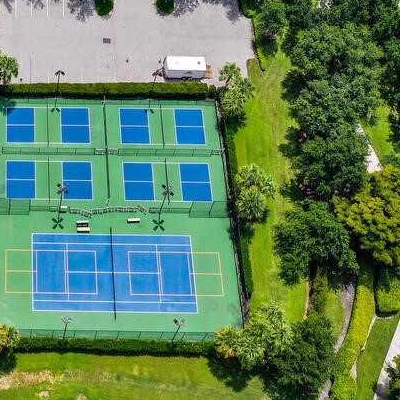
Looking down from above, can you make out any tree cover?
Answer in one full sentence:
Yes, there is tree cover in the image.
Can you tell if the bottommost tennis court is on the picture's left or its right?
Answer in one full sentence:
You can find the bottommost tennis court on the left side of the picture.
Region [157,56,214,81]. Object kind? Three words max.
trailer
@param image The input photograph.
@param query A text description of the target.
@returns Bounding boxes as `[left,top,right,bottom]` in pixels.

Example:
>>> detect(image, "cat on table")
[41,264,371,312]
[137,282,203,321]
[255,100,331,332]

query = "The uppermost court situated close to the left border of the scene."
[0,100,107,151]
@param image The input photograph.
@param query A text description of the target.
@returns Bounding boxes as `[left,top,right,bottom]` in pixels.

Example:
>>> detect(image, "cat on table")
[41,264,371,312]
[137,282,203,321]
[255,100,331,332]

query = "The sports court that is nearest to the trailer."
[104,101,222,153]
